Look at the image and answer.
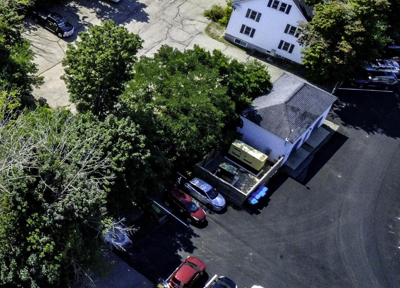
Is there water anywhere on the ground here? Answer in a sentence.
No, water can't be seen anywhere here.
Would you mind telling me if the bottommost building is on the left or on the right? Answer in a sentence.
You can find the bottommost building on the right side of the picture.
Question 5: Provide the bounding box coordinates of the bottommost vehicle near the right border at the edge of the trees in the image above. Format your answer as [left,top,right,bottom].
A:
[350,71,397,92]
